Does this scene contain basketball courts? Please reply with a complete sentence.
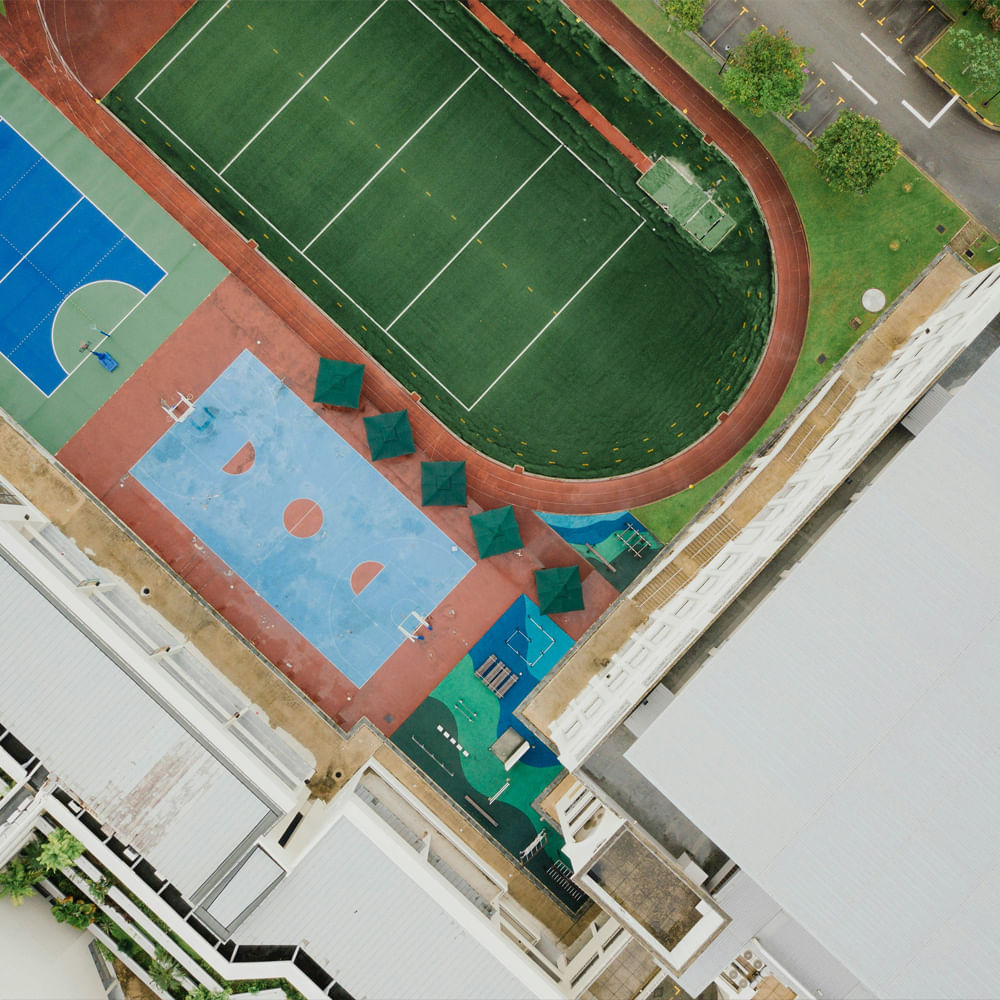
Yes, a basketball court can be made out from above.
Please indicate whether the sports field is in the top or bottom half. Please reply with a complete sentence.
The top half of the photo is where the sports field is.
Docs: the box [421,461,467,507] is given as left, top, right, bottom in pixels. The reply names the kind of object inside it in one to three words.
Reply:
tent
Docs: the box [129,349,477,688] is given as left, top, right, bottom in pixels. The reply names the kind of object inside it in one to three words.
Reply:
basketball court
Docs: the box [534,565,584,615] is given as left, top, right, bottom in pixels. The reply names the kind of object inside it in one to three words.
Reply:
tent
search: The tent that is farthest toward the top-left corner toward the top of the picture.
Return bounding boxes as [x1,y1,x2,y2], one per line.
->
[313,357,367,409]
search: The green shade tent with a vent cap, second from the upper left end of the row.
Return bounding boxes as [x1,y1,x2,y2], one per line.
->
[363,409,416,461]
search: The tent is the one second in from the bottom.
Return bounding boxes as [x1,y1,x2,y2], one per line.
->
[470,505,523,559]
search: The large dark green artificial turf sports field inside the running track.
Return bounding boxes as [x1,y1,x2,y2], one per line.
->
[104,0,775,479]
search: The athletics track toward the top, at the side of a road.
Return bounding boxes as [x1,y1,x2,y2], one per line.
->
[0,0,811,516]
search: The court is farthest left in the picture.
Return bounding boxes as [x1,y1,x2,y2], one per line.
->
[0,57,229,456]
